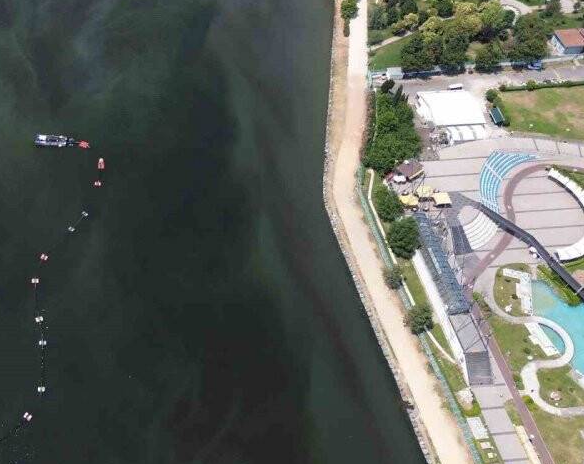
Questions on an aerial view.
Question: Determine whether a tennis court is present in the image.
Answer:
No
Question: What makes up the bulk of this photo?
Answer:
water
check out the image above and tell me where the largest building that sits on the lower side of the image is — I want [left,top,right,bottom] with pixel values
[408,211,492,387]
